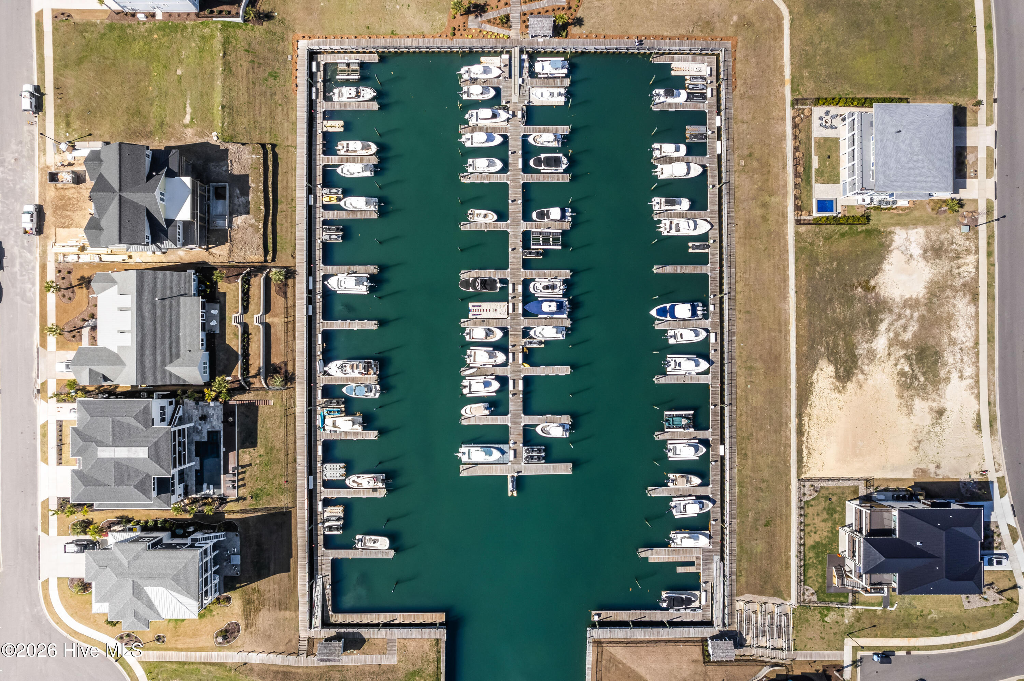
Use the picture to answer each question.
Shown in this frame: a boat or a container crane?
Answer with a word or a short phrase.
boat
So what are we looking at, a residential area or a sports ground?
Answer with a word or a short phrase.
residential area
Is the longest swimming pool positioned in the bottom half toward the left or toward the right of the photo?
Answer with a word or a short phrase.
left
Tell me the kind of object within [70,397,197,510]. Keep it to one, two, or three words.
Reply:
house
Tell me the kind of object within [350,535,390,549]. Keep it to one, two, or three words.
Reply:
boat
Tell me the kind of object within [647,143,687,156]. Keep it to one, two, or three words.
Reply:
boat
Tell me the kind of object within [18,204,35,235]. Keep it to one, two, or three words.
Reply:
vehicle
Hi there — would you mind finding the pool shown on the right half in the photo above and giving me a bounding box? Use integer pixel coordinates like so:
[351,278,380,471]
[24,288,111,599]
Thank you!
[813,197,838,216]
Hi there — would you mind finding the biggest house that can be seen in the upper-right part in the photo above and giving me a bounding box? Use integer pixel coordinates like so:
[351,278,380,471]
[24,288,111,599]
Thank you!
[836,103,954,204]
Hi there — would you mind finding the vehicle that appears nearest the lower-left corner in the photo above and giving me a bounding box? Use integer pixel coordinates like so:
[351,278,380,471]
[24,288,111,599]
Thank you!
[62,542,96,556]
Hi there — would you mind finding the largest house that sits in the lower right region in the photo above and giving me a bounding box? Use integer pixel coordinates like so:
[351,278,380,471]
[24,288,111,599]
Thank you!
[826,500,983,595]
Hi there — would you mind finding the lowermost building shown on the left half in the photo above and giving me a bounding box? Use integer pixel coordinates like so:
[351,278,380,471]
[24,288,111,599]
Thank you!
[317,637,345,662]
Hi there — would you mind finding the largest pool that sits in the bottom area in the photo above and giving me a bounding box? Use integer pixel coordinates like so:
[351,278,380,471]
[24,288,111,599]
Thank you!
[193,430,223,497]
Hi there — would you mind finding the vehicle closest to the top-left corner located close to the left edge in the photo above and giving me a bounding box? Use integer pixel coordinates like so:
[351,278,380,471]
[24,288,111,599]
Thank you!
[14,82,36,111]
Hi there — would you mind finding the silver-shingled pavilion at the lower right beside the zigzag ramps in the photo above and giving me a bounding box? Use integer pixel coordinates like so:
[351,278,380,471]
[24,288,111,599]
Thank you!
[708,635,736,661]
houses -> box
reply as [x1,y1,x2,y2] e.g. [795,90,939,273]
[69,270,210,385]
[84,528,231,631]
[70,397,197,510]
[826,500,983,595]
[84,142,223,255]
[115,0,210,20]
[836,103,954,204]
